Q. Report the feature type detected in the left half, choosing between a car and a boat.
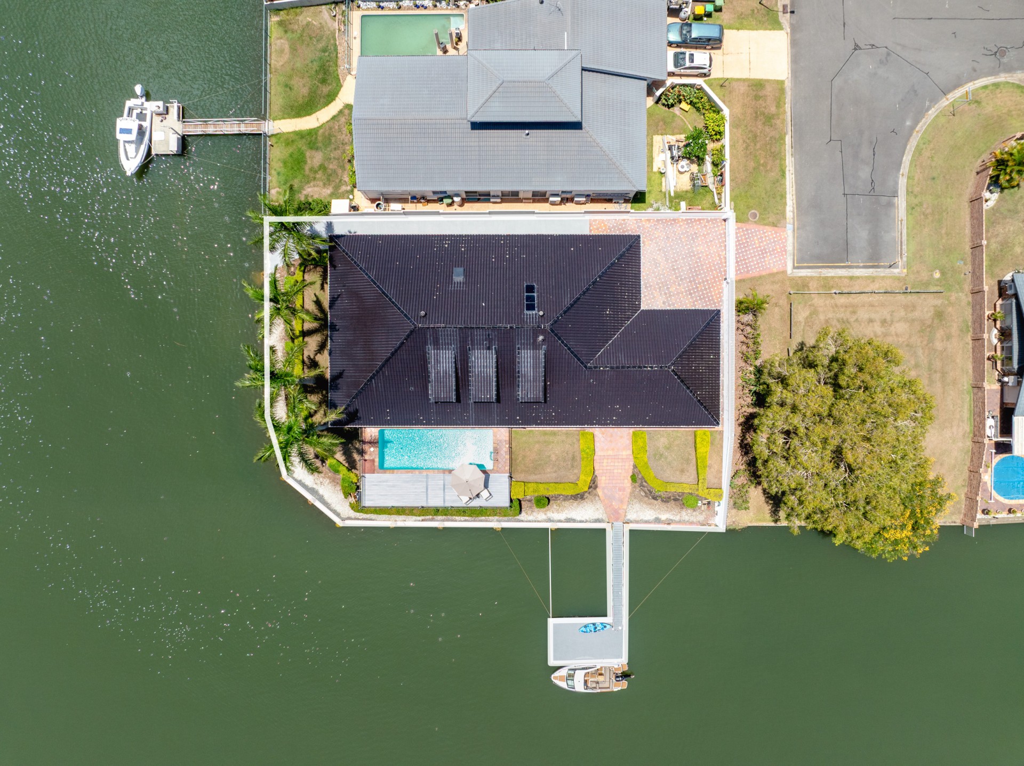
boat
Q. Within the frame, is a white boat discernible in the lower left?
No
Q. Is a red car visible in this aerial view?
No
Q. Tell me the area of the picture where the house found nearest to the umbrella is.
center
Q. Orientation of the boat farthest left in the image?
up and down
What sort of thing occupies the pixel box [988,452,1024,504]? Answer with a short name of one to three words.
swimming pool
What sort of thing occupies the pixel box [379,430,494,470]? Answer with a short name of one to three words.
swimming pool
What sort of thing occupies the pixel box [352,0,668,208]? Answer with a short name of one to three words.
house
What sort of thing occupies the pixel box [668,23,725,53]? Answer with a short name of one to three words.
car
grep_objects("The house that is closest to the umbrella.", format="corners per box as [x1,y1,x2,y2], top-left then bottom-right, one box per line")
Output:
[327,233,723,429]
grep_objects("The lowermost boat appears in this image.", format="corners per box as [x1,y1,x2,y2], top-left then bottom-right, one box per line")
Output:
[551,664,637,693]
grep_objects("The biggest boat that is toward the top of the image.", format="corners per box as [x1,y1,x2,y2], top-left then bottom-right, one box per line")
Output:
[115,89,153,178]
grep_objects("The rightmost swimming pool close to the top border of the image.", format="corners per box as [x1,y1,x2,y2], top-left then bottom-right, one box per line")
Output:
[360,13,465,54]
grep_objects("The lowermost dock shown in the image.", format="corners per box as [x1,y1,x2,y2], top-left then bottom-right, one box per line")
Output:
[549,616,627,665]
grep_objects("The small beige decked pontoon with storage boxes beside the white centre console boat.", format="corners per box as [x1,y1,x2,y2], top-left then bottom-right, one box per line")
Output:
[153,105,185,156]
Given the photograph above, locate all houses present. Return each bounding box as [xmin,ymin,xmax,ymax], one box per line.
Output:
[986,272,1024,457]
[352,0,668,208]
[327,233,723,429]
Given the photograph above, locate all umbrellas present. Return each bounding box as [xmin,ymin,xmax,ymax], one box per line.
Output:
[446,462,483,499]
